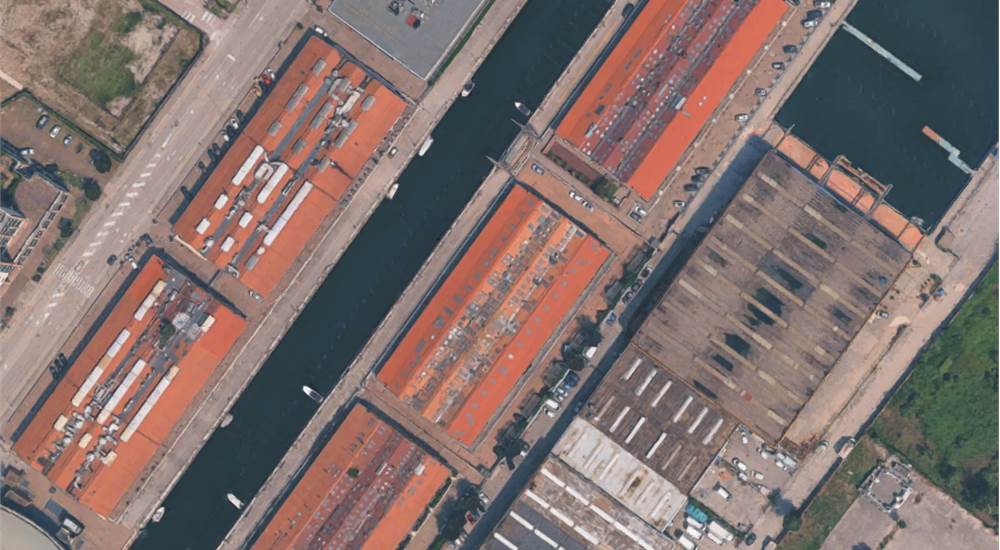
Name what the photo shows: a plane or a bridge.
bridge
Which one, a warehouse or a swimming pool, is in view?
warehouse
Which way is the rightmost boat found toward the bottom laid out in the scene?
on a diagonal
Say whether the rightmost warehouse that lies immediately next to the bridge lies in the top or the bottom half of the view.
top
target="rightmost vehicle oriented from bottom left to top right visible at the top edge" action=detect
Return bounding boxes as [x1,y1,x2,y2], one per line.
[619,4,635,19]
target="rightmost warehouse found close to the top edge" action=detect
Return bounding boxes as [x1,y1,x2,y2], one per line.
[542,0,799,213]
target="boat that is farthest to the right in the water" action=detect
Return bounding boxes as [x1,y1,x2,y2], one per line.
[909,214,924,227]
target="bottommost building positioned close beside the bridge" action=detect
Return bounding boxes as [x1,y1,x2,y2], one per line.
[374,182,619,450]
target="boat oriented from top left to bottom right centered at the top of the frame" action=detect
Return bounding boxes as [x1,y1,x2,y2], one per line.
[516,101,531,116]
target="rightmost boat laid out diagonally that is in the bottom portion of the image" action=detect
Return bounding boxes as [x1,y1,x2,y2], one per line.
[303,386,323,405]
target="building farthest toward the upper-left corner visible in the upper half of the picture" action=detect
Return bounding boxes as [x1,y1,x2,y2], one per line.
[0,138,35,190]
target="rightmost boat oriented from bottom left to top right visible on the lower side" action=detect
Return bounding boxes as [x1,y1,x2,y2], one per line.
[221,415,234,429]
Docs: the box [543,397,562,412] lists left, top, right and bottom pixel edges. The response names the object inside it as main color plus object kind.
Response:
white vehicle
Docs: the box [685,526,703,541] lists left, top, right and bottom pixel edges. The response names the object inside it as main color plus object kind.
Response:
white vehicle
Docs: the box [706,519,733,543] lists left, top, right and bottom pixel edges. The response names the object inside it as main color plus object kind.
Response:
white truck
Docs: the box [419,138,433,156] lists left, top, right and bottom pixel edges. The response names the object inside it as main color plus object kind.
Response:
white boat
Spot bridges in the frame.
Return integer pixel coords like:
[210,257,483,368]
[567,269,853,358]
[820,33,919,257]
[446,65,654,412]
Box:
[485,118,547,179]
